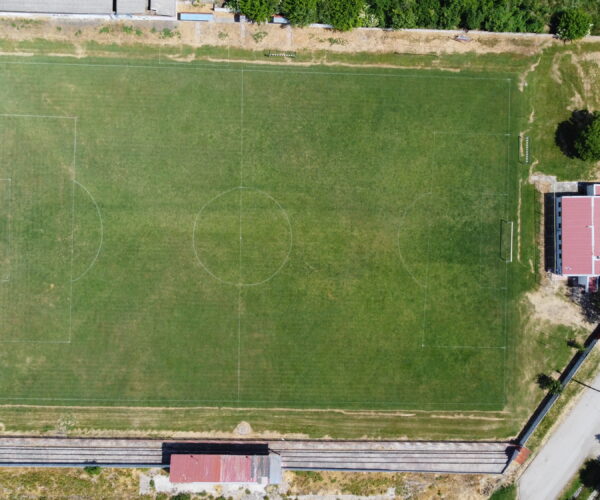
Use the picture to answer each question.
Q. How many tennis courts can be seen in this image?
0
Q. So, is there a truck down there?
No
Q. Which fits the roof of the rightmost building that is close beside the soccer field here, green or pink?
pink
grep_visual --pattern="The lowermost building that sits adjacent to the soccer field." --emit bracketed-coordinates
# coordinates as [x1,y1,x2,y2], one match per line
[554,194,600,292]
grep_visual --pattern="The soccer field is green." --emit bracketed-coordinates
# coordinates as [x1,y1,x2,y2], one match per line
[0,61,513,407]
